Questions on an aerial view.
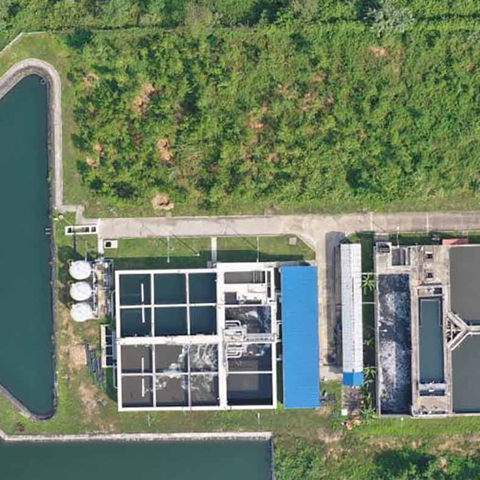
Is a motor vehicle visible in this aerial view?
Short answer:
No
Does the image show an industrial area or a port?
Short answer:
industrial area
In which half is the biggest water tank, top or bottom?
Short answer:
bottom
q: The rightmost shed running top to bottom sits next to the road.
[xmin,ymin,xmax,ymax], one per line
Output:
[341,243,363,386]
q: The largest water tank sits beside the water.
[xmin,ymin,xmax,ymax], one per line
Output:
[115,262,279,411]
